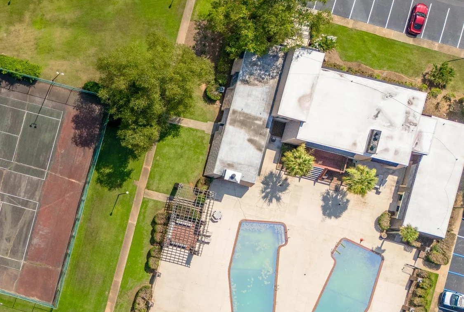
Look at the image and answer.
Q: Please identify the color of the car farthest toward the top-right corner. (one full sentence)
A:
In this view, the car farthest toward the top-right corner is red.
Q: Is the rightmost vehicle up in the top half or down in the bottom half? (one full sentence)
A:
You can find the rightmost vehicle in the bottom half.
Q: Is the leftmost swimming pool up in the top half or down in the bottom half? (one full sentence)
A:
The leftmost swimming pool is in the bottom half of the image.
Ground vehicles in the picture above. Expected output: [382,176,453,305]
[436,292,464,312]
[405,3,427,35]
